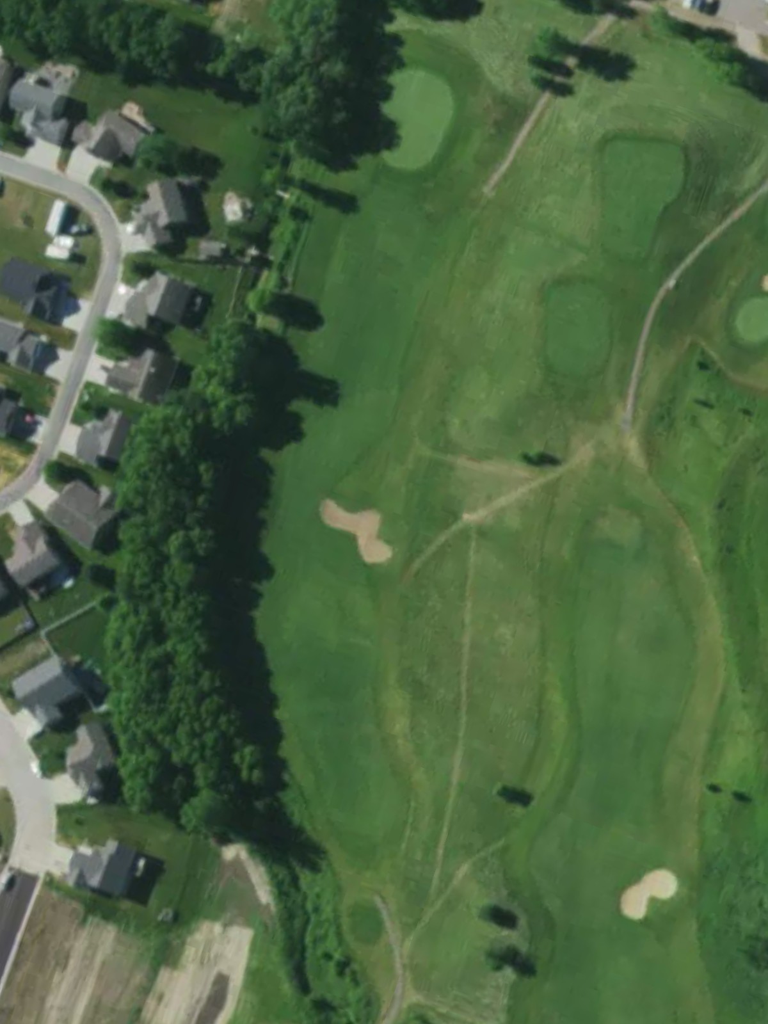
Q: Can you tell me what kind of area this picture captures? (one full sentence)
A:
This looks like a golf course.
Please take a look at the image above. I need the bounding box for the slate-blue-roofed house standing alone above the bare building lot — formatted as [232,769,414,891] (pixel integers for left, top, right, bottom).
[64,837,137,900]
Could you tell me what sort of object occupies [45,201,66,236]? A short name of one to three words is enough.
vehicle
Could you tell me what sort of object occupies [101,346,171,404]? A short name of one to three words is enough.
house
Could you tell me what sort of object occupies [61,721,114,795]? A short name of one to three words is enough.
house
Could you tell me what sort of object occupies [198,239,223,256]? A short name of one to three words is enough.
shed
